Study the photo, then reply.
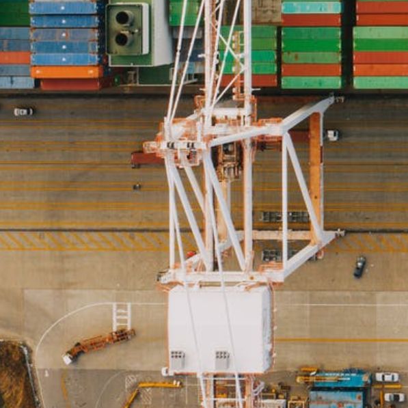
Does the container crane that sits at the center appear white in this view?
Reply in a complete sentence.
Yes, the container crane that sits at the center is indeed white.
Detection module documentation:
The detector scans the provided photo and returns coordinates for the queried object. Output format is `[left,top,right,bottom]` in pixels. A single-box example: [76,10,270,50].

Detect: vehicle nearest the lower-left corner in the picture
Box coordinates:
[65,343,89,365]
